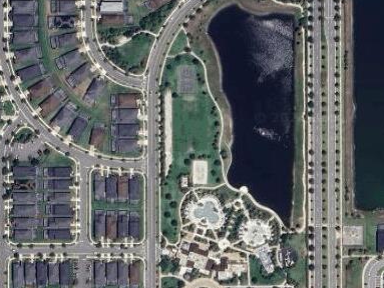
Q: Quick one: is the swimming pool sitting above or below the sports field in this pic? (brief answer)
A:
below it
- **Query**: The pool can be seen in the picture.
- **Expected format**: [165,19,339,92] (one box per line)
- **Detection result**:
[194,200,220,225]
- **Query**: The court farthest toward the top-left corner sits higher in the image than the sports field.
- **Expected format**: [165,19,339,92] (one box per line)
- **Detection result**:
[178,64,197,95]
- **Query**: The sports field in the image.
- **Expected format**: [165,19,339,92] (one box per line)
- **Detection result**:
[174,99,218,155]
